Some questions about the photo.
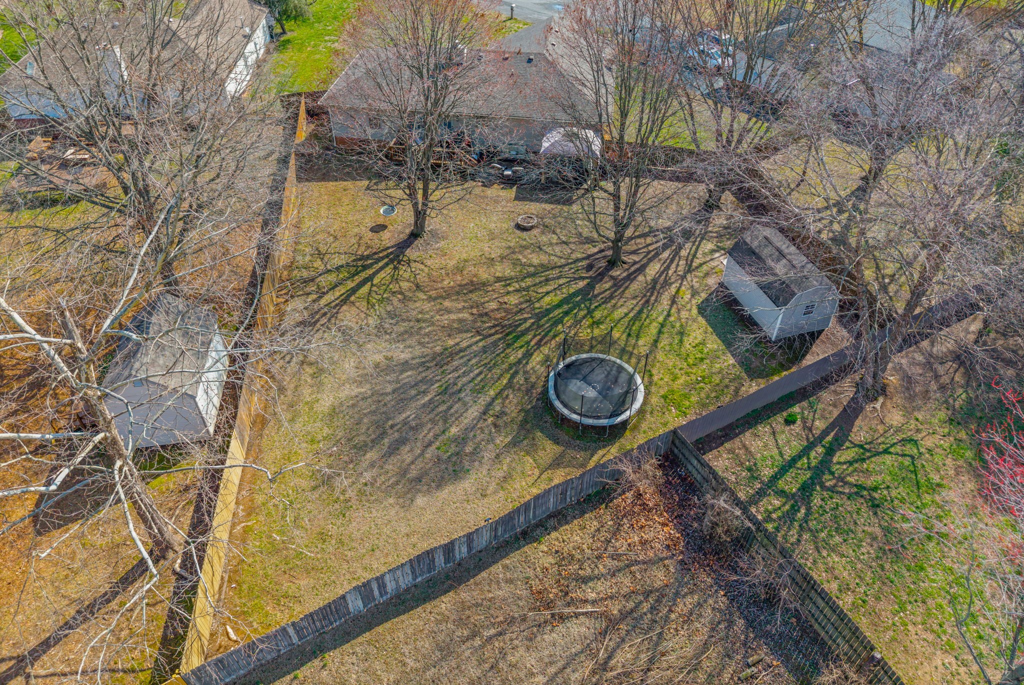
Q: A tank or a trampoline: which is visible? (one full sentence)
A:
This aerial view contains a trampoline.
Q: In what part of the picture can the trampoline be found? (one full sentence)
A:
The trampoline is located in the center region of the scene.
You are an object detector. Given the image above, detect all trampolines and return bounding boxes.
[546,326,649,436]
